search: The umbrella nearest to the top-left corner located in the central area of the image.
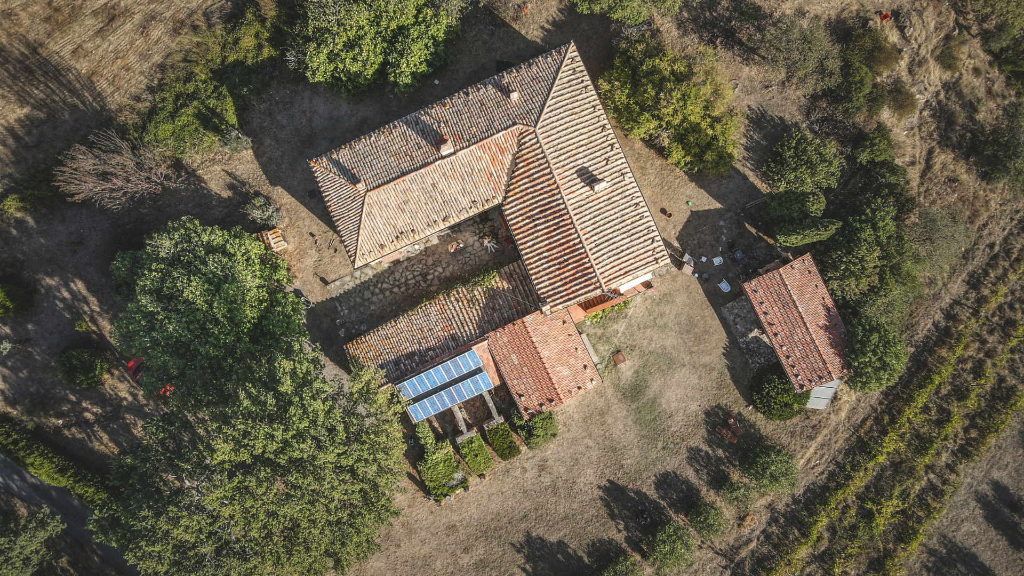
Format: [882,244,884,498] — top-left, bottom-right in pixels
[483,234,499,256]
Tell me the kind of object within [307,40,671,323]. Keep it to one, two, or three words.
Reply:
house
